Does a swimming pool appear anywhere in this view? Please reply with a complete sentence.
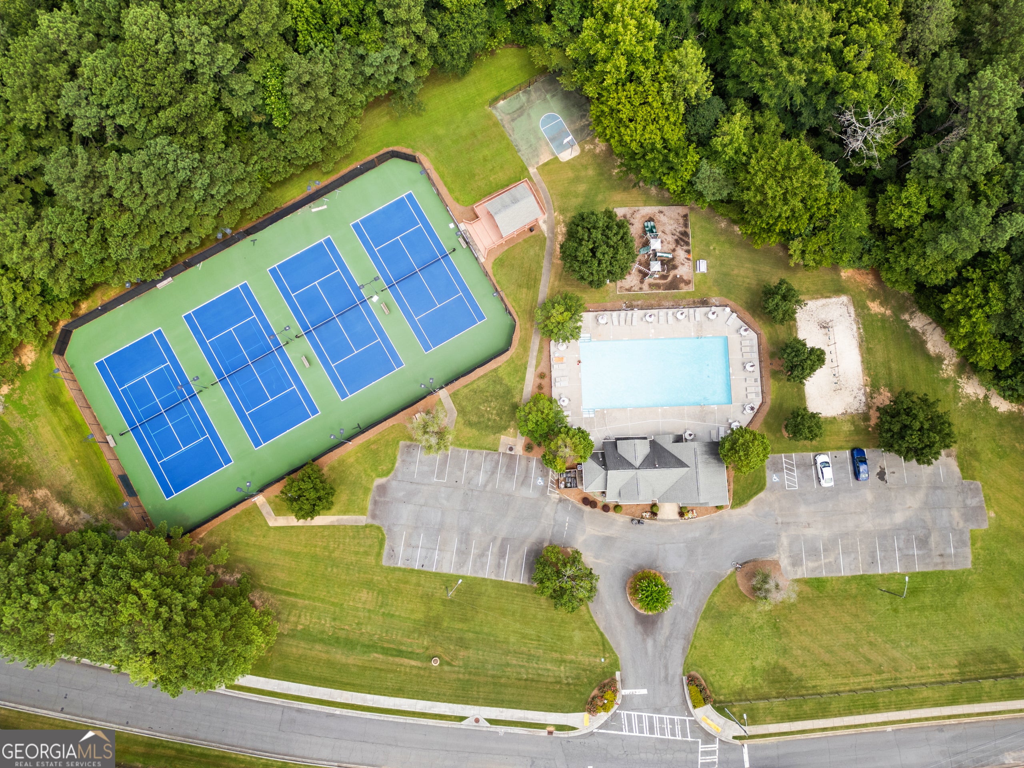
Yes, the picture does show a swimming pool.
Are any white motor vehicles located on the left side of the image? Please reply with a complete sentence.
No, looking on the left side of the image, there is no white motor vehicle.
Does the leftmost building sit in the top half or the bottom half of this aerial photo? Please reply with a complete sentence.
It is in the top half that the leftmost building appears.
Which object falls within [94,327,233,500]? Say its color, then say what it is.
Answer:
blue tennis court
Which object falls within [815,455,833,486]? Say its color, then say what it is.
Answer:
white car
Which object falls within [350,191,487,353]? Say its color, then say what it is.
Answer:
blue tennis court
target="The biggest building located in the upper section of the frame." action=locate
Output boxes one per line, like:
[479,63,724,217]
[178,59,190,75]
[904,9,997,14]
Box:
[464,178,546,258]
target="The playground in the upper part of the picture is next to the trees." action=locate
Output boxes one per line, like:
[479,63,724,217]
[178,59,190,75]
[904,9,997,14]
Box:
[613,205,695,294]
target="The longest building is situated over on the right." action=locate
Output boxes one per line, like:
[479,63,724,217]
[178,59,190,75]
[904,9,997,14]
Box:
[582,433,729,506]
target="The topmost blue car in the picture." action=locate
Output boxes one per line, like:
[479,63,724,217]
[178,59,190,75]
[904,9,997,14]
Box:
[851,449,869,480]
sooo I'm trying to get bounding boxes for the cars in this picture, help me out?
[815,455,833,486]
[851,449,869,480]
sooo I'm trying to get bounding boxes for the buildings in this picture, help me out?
[582,433,729,506]
[464,178,546,258]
